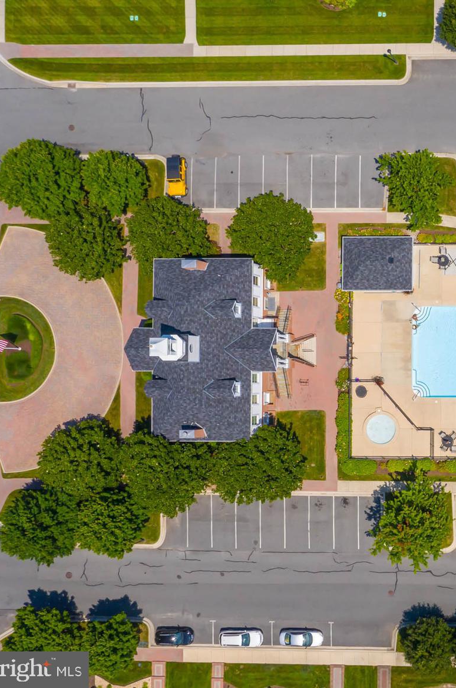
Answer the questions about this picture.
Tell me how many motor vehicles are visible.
4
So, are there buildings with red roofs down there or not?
No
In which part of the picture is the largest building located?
center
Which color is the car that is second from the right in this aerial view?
white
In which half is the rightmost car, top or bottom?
bottom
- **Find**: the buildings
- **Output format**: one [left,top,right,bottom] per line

[123,257,319,443]
[342,236,416,293]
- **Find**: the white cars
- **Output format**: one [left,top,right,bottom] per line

[279,628,324,649]
[219,627,263,649]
